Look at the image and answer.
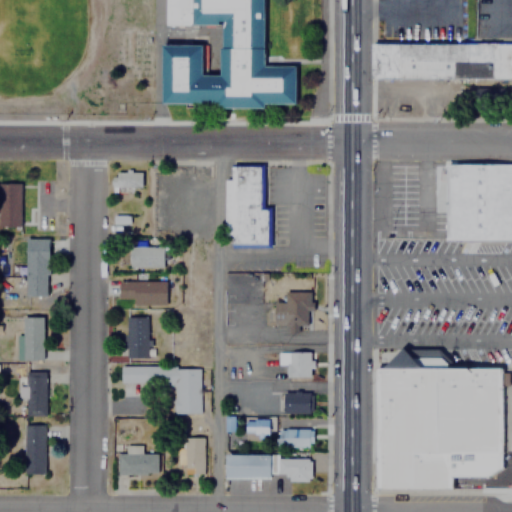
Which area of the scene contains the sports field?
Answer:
top left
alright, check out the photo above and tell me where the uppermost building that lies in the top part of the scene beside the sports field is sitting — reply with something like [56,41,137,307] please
[162,0,297,107]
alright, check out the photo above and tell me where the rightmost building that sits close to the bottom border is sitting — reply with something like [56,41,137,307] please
[379,350,512,490]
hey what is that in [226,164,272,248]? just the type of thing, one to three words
building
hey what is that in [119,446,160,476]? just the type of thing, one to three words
house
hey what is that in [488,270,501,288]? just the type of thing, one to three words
vehicle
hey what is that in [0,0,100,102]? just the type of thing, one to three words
sports field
